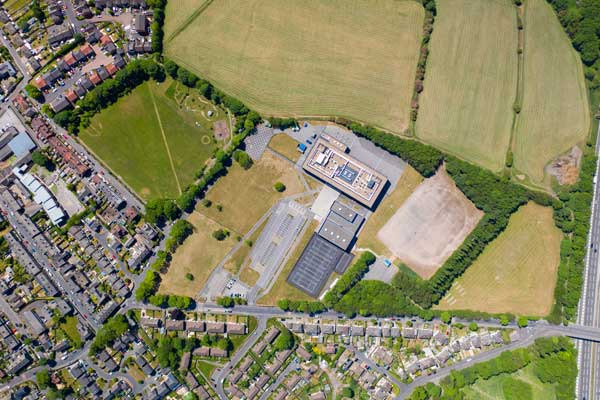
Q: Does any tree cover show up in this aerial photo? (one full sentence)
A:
Yes, there's tree cover in this view.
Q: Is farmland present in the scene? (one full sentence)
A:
Yes, farmland can be seen from above here.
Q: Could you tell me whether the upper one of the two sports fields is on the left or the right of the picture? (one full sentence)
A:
The upper one of the two sports fields is on the left side of the image.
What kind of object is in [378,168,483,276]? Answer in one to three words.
sports field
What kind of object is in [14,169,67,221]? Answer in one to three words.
building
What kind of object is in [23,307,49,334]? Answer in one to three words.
building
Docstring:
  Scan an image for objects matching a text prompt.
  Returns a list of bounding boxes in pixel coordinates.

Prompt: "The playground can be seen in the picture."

[175,86,229,145]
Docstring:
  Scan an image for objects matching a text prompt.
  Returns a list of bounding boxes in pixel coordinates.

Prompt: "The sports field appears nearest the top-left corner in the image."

[81,76,233,203]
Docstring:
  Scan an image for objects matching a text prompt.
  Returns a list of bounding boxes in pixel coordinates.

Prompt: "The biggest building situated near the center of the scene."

[301,136,387,208]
